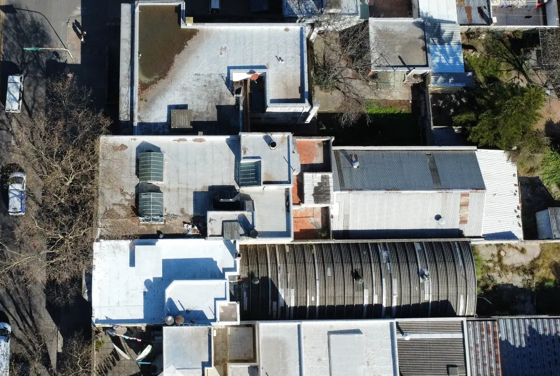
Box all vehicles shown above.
[251,0,272,24]
[7,173,25,214]
[5,75,24,115]
[0,323,11,376]
[209,0,224,24]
